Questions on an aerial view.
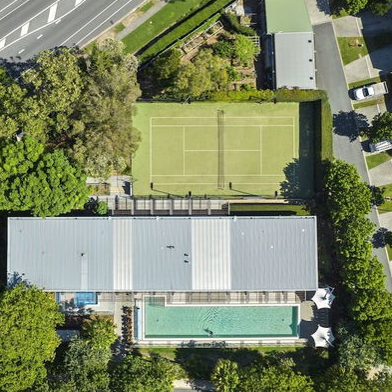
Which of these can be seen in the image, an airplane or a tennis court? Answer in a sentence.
Looking from above, you can make out a tennis court.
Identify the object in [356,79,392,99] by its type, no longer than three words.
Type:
vehicle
